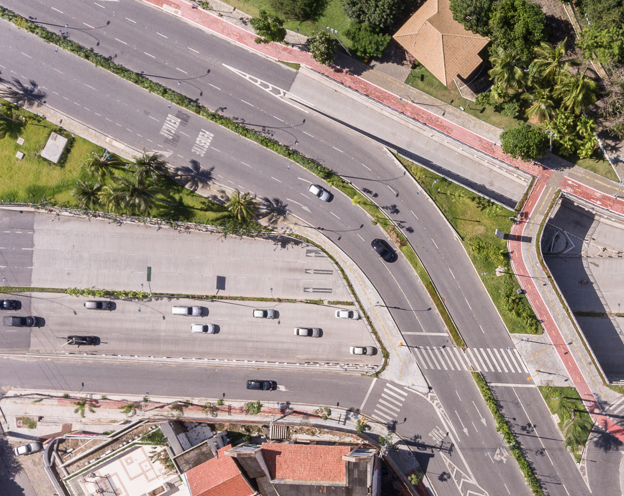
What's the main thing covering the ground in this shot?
paved ground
